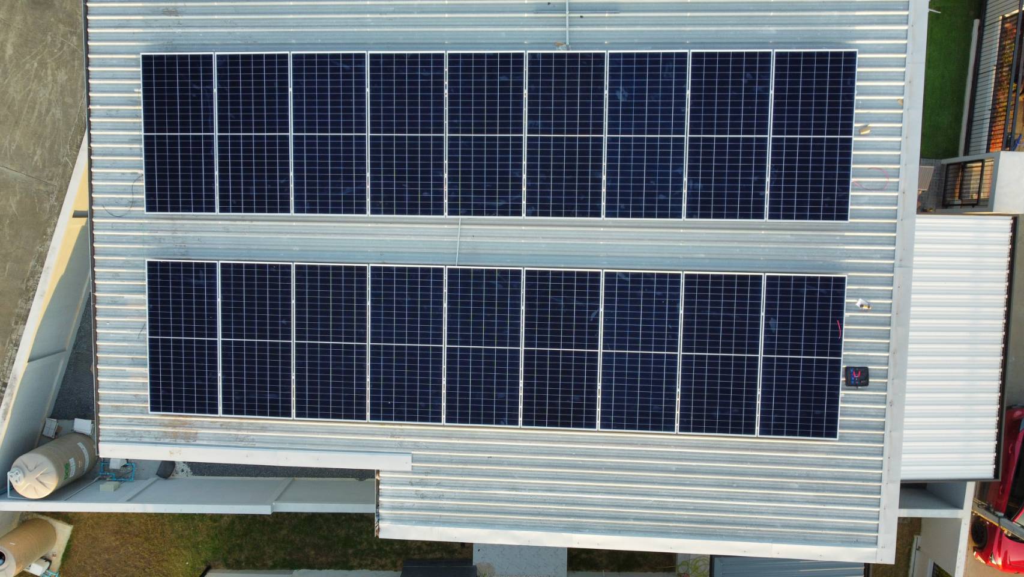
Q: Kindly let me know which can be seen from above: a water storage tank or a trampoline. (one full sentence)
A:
I can see a water storage tank in this picture.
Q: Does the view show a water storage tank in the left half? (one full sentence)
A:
Yes, a water storage tank shows up in the left half.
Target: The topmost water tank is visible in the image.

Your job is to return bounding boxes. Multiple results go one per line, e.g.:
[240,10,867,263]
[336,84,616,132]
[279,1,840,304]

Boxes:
[9,434,94,497]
